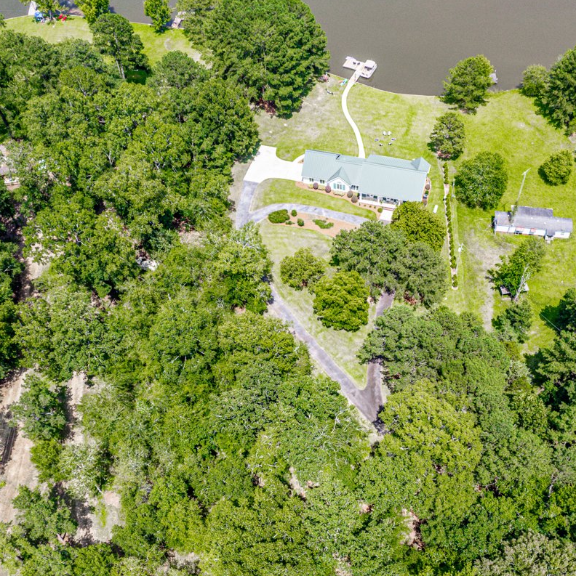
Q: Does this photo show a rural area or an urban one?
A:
rural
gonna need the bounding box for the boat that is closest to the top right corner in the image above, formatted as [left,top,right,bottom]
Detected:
[359,55,378,81]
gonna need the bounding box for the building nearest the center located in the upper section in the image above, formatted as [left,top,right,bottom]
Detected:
[301,147,434,215]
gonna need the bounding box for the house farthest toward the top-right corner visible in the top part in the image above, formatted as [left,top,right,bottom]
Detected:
[493,204,573,248]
